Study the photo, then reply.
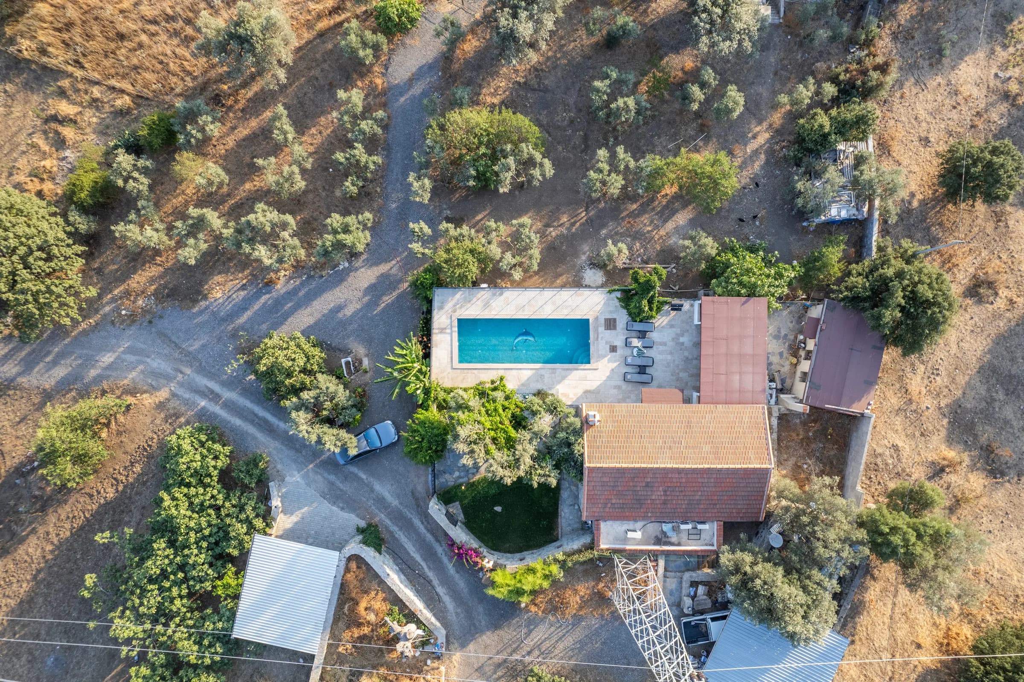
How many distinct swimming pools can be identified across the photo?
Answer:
1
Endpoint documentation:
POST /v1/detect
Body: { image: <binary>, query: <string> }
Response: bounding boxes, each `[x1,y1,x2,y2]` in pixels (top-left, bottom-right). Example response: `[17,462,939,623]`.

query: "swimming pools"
[453,315,598,368]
